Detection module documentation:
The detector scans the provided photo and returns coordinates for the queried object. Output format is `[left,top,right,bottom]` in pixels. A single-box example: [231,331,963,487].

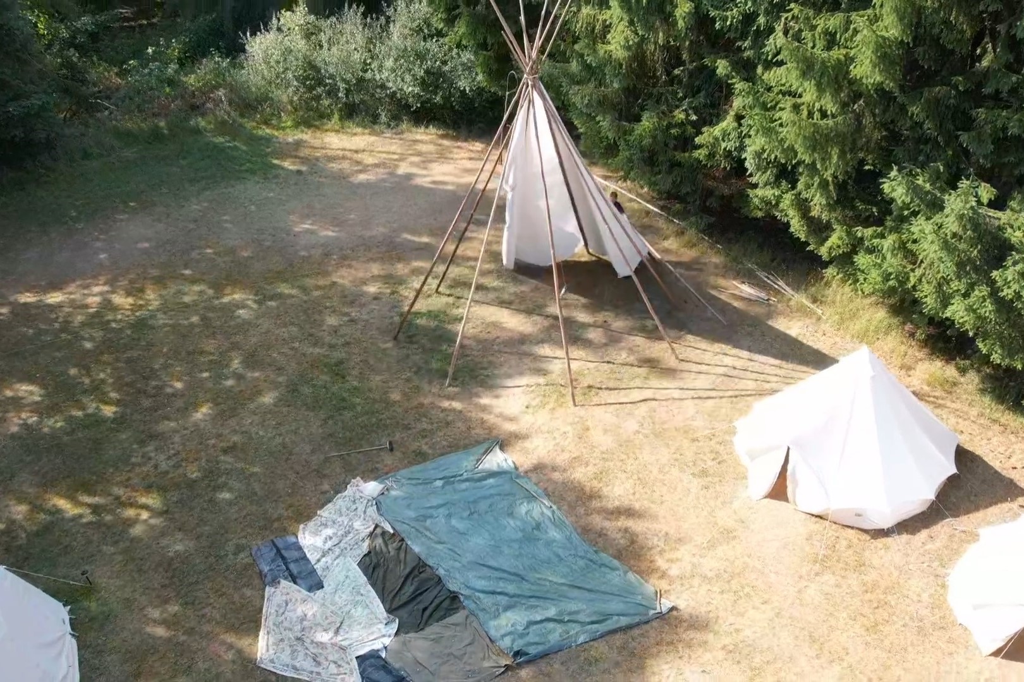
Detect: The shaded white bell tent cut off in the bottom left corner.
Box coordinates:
[0,566,79,682]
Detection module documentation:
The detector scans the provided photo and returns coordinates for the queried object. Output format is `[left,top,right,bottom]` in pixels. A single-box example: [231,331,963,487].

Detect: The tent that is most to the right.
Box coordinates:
[877,497,1024,682]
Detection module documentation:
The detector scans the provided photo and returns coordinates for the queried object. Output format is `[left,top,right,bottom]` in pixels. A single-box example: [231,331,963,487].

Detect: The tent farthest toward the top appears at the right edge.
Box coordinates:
[684,344,998,570]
